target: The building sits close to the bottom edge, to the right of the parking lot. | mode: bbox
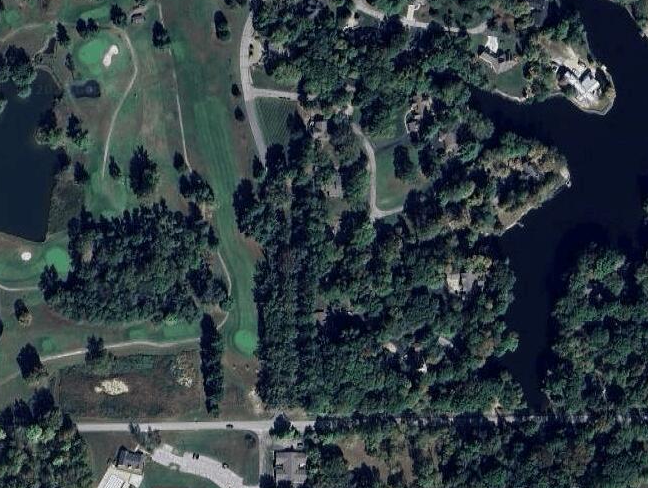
[276,452,307,484]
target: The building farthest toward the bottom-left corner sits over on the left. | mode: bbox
[114,448,147,473]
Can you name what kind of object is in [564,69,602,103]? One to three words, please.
house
